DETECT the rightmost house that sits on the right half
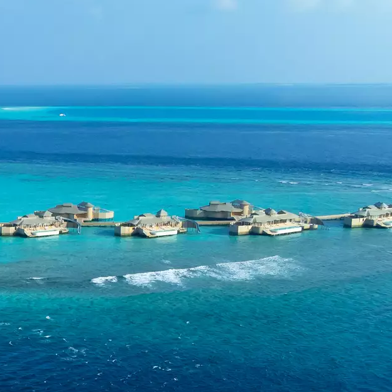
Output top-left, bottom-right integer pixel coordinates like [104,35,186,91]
[339,201,392,228]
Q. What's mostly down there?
water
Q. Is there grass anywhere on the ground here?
No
